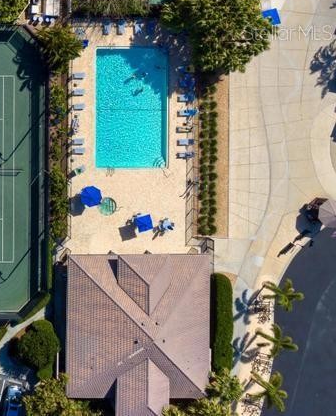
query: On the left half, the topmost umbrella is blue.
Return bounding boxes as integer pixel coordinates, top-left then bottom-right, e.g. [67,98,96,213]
[81,186,102,206]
